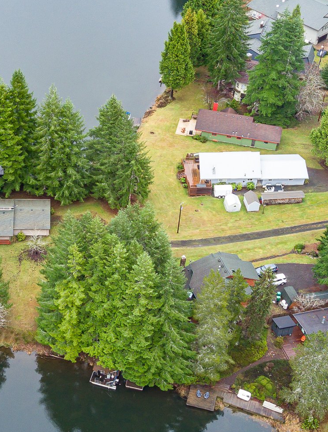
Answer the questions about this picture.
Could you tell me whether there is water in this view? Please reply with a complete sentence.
Yes, there is water in the image.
